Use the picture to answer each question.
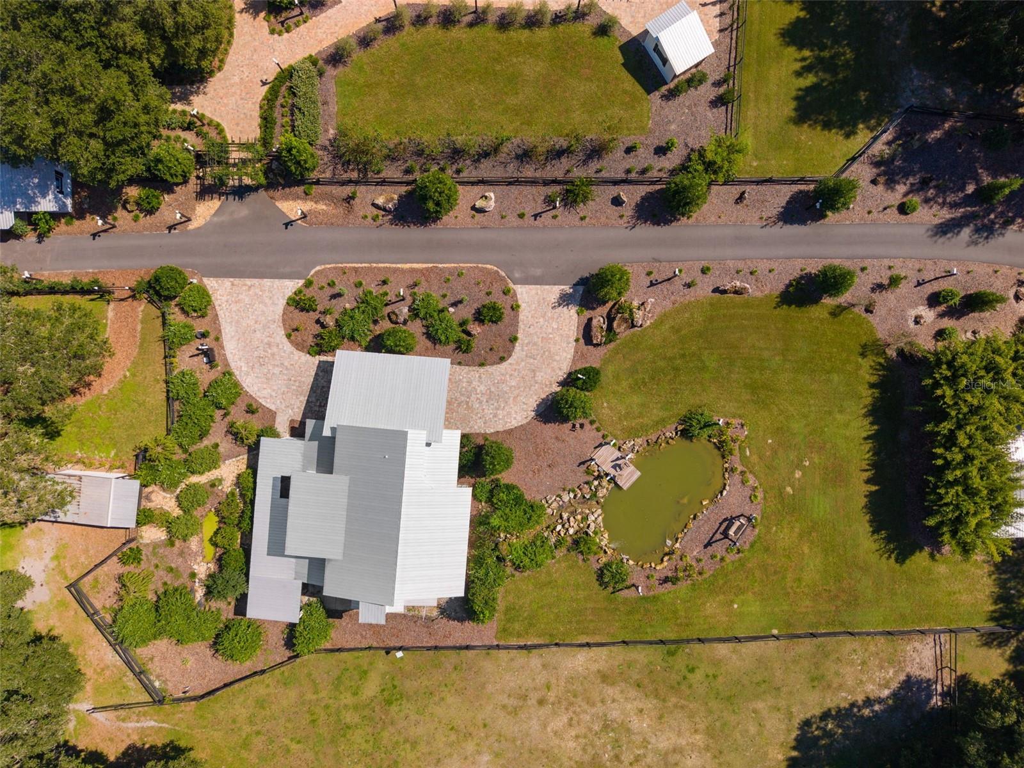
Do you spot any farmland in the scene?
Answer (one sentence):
Yes, farmland shows up in the scene.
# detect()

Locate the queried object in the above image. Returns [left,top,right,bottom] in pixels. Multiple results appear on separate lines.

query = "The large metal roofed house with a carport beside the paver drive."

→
[246,349,473,624]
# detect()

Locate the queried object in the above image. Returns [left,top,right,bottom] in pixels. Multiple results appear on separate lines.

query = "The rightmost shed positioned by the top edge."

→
[644,0,715,82]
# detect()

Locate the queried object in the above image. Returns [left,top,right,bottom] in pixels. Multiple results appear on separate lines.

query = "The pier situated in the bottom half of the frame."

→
[591,445,641,490]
